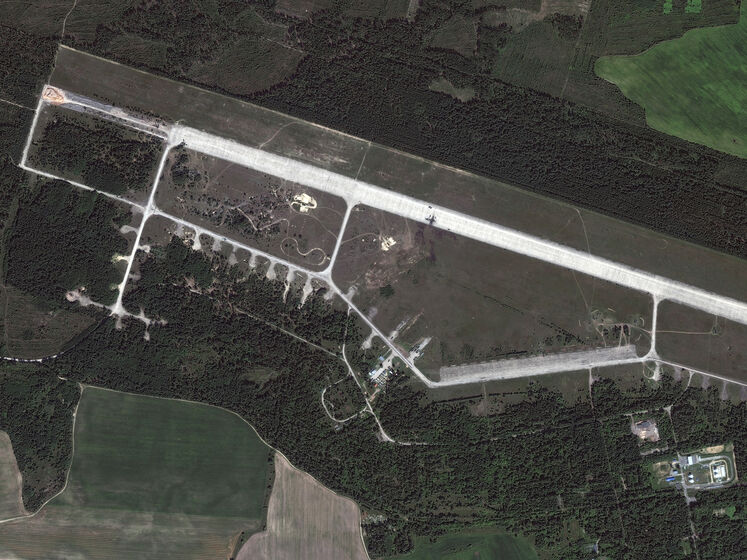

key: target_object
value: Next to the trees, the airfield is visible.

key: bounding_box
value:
[20,91,747,400]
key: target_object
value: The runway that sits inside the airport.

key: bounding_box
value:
[171,125,747,324]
